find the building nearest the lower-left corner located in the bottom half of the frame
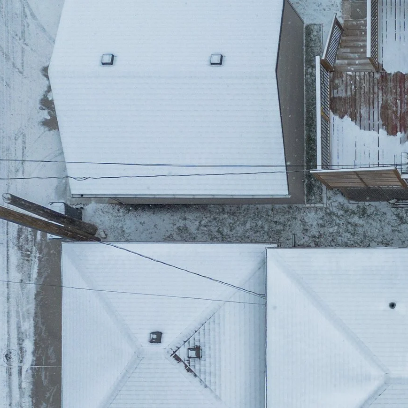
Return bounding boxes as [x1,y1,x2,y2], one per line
[65,246,277,408]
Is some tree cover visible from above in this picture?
No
